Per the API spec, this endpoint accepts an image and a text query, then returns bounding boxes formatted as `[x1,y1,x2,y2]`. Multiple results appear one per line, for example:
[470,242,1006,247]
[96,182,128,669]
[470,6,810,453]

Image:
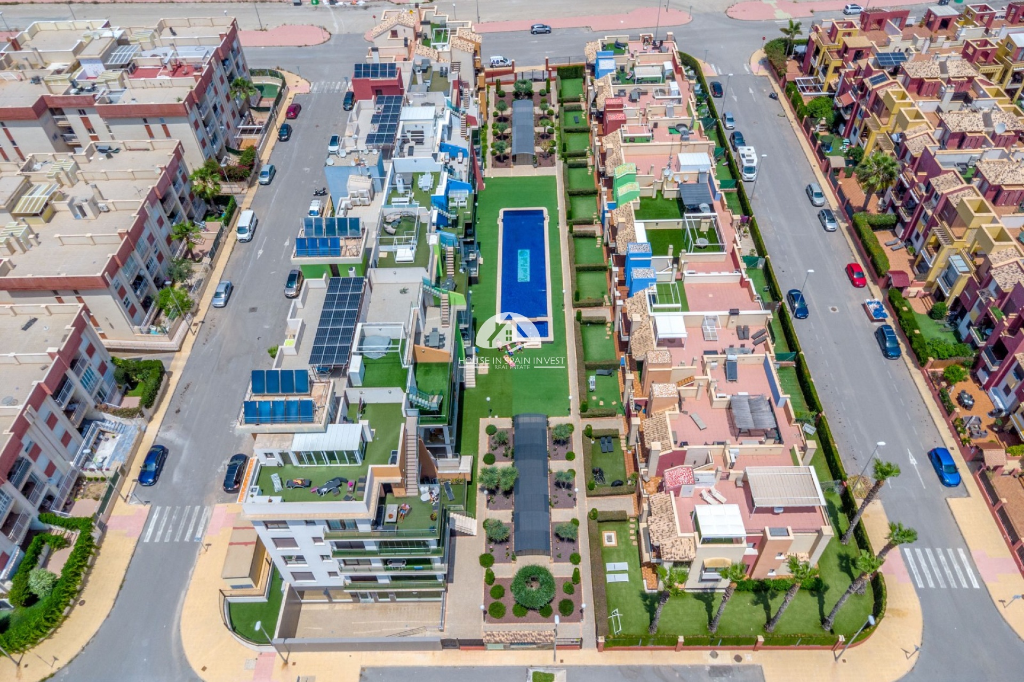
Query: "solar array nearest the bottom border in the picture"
[309,276,365,367]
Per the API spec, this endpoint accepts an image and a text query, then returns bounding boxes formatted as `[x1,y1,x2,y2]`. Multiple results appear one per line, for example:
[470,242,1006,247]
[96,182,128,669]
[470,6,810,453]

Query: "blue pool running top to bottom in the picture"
[494,206,556,348]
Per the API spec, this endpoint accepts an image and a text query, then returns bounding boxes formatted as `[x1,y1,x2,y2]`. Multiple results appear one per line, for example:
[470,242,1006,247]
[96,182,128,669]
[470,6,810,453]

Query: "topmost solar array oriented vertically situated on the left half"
[362,88,402,155]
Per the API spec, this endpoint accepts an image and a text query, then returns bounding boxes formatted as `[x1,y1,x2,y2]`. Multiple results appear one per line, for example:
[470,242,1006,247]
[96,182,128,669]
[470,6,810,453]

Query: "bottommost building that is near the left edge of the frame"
[0,304,121,591]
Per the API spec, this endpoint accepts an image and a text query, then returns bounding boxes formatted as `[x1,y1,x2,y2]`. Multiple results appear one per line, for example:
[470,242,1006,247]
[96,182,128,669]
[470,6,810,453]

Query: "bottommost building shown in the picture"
[443,626,580,649]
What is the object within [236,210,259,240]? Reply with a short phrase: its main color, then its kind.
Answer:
white car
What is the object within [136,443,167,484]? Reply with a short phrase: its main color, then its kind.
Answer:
blue car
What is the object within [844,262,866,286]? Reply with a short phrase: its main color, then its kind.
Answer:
red car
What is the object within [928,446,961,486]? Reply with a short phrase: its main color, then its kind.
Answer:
blue car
